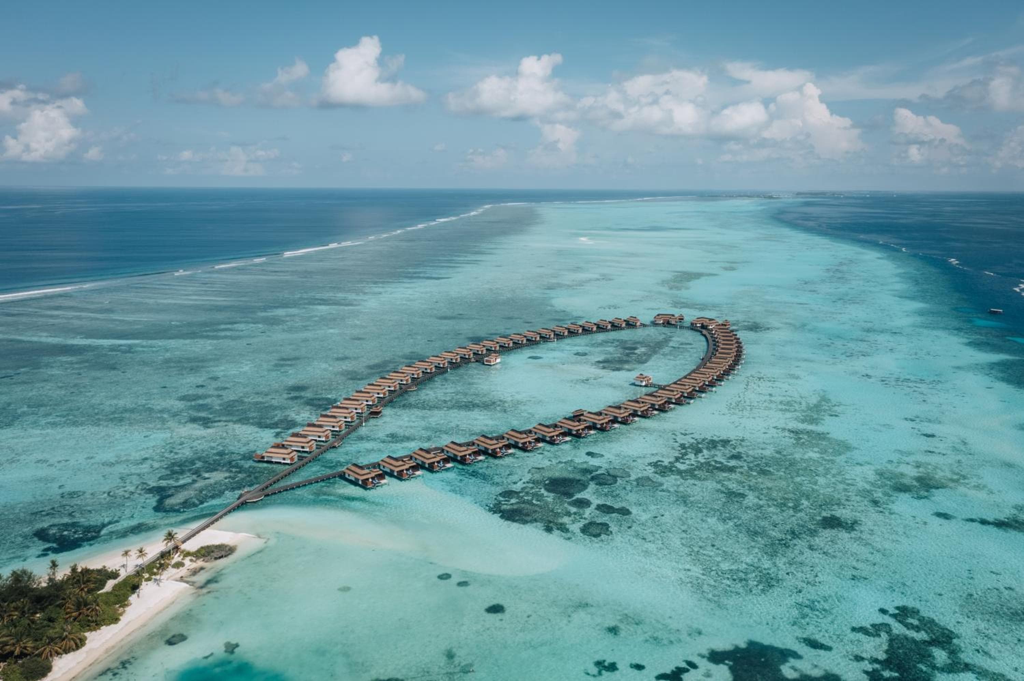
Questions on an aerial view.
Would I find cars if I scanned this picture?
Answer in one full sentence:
No, there isn't any car down there.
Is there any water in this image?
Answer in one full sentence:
Yes, there is water in the image.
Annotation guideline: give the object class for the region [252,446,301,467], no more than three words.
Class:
house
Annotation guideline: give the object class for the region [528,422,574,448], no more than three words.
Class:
house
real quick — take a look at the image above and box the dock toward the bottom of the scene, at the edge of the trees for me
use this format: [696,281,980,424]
[110,325,714,584]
